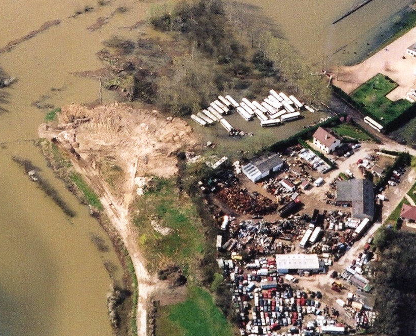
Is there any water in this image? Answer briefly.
Yes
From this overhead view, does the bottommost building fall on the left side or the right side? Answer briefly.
right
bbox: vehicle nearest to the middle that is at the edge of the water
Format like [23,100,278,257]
[211,158,228,171]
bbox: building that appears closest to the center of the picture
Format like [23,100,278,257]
[241,164,261,189]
